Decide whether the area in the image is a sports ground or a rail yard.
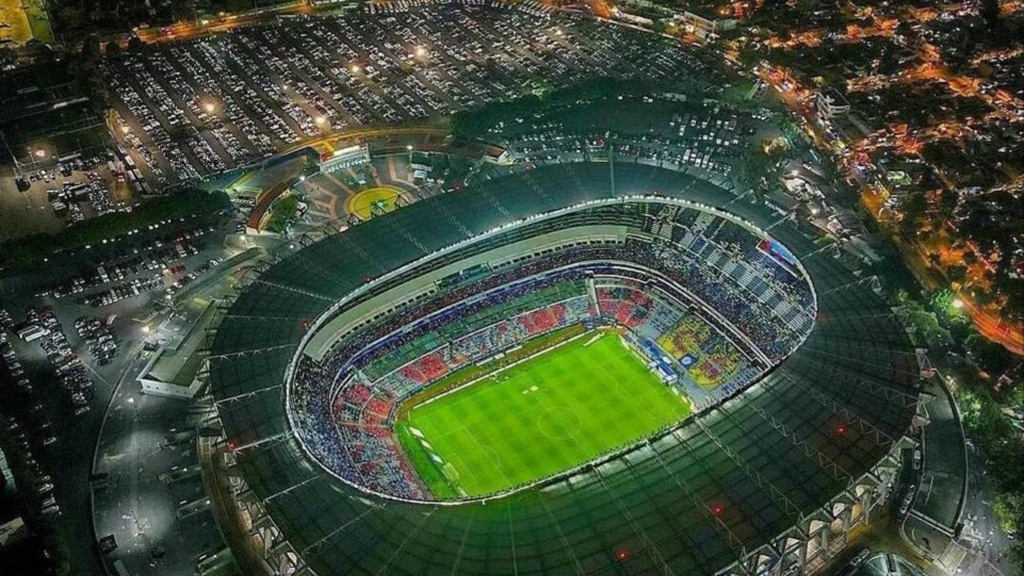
sports ground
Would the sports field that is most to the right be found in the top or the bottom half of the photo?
bottom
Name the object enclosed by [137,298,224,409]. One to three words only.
building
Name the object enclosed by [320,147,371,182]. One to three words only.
building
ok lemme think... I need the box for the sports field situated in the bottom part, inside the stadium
[406,329,699,498]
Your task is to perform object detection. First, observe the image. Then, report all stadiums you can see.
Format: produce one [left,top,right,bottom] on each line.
[203,153,928,576]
